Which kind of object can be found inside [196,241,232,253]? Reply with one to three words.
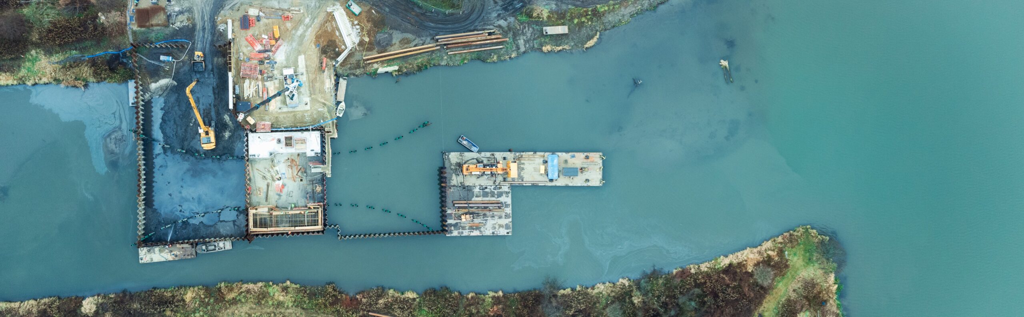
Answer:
boat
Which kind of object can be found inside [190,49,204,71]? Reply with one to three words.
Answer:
vehicle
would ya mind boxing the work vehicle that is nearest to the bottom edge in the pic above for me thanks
[186,75,215,150]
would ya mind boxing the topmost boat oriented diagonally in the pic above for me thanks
[458,135,479,152]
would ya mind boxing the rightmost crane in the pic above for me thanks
[460,151,522,184]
